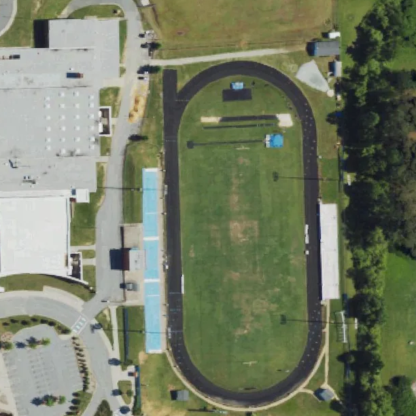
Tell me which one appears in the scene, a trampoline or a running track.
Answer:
running track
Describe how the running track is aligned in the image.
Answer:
vertically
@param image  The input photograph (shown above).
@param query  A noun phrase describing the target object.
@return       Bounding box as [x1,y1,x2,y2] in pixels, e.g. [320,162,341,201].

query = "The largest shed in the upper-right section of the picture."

[312,40,342,56]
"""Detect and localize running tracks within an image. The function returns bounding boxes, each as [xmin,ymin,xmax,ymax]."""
[162,59,324,405]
